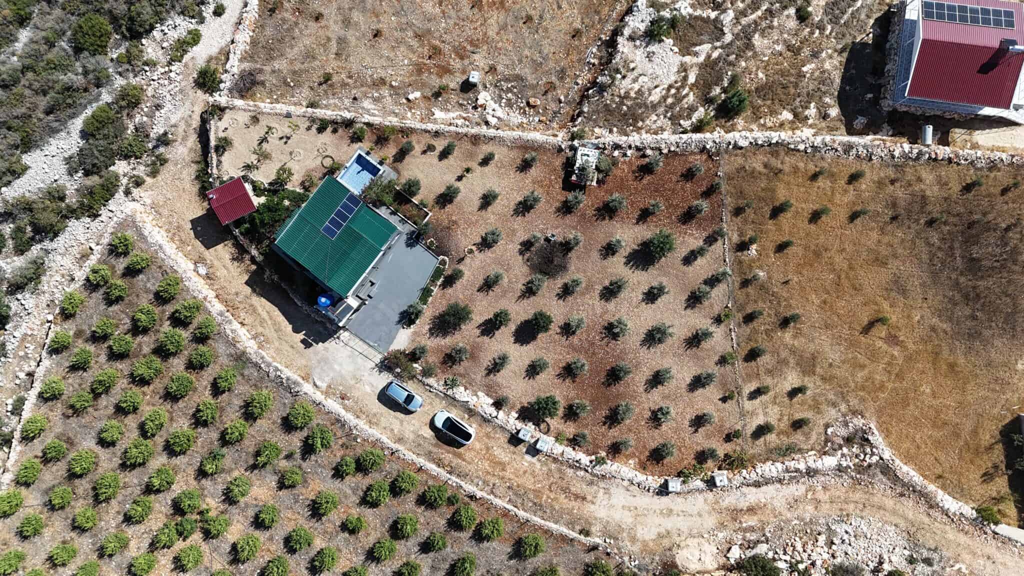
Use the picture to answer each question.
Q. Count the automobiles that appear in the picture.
2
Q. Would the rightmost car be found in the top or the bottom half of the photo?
bottom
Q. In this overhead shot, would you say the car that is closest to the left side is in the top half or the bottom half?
bottom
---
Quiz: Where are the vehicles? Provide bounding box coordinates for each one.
[383,380,424,412]
[433,411,475,447]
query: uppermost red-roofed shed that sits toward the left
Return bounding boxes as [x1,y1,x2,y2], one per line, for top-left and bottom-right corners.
[206,177,259,225]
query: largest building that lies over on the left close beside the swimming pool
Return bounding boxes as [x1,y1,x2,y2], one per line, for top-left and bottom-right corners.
[272,174,405,305]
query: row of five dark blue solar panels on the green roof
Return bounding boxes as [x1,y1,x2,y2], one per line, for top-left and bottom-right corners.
[322,192,362,239]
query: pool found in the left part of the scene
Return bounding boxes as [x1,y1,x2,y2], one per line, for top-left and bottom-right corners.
[336,150,384,197]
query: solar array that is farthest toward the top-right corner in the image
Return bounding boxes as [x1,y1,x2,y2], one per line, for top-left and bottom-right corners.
[923,1,1015,28]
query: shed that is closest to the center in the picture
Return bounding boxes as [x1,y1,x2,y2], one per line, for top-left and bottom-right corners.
[569,142,605,188]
